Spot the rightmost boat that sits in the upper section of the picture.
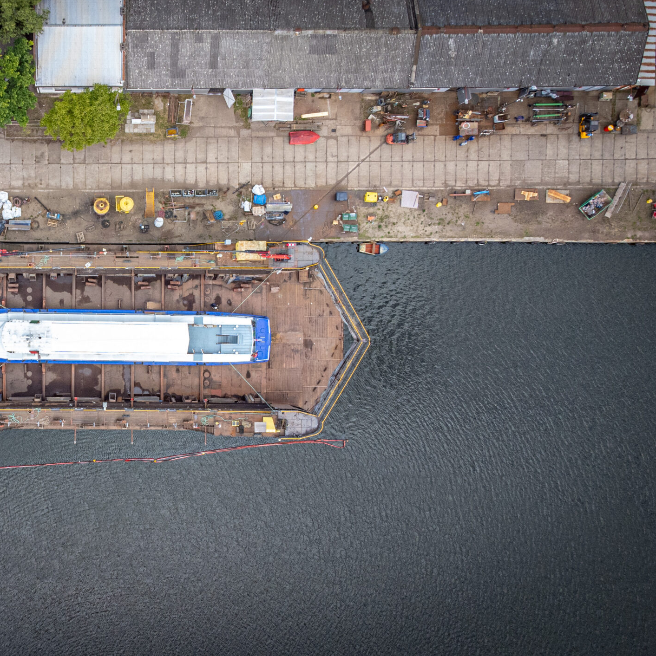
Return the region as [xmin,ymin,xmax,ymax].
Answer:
[354,243,388,255]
